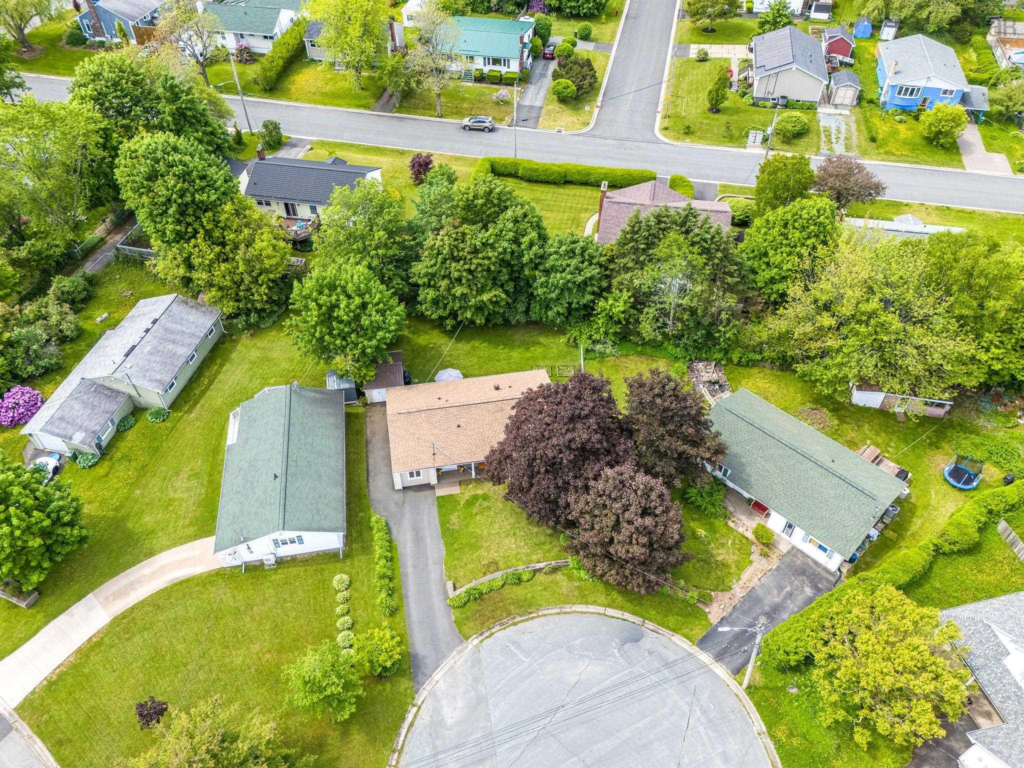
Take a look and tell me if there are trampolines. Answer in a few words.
Yes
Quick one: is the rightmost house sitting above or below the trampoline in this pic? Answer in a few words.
below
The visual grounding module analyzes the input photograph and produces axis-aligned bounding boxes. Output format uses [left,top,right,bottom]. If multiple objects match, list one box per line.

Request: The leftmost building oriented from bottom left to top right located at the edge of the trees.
[18,295,231,459]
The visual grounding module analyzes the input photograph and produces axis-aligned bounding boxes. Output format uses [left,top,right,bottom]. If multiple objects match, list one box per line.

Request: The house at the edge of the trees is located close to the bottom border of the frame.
[938,594,1024,768]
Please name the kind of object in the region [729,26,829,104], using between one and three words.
house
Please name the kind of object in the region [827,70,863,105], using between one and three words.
shed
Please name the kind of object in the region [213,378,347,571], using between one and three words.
house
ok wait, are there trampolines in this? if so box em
[943,447,992,489]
